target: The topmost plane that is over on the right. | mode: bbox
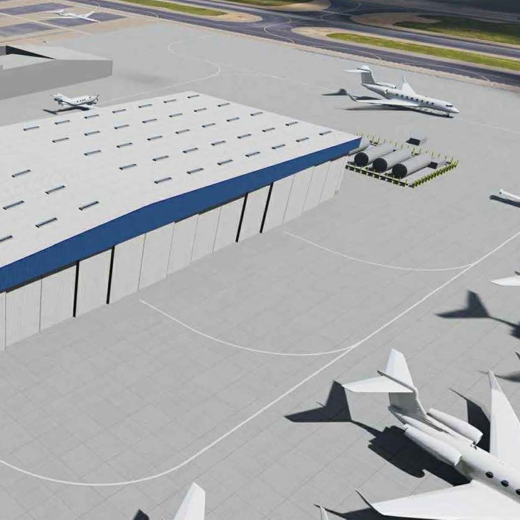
[347,65,464,118]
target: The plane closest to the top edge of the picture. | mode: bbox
[64,9,101,23]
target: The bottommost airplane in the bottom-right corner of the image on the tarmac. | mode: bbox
[344,349,520,520]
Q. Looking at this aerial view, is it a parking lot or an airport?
airport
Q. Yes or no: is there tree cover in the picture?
No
